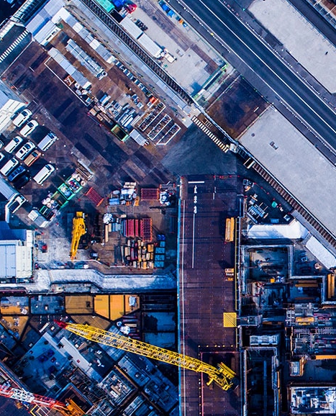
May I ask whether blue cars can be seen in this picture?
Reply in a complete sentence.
Yes, I can see a blue car in this picture.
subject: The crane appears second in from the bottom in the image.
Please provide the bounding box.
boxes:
[54,318,247,396]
